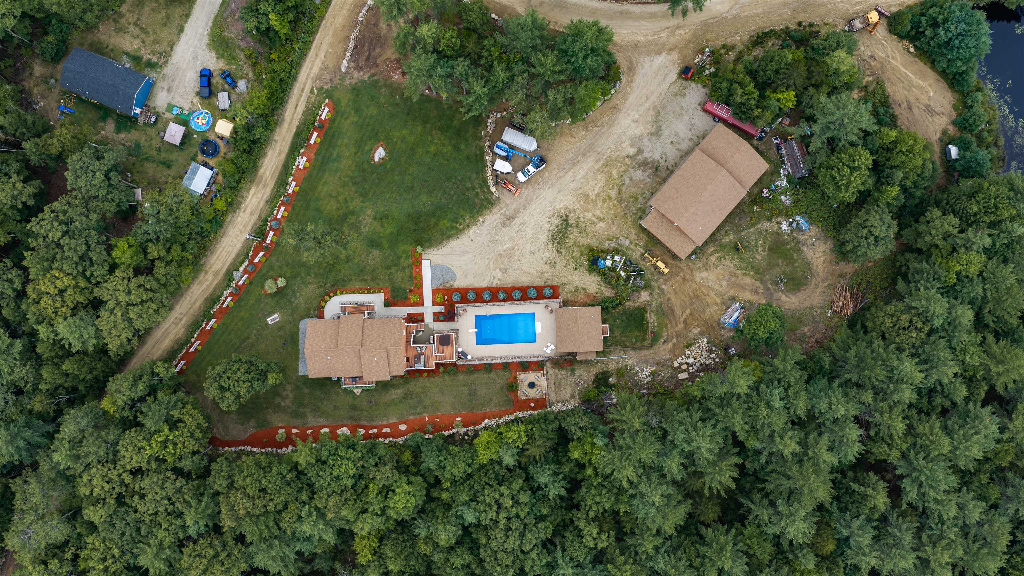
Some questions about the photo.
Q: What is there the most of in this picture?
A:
trees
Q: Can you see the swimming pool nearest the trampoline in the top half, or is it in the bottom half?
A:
top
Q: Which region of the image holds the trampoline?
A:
top left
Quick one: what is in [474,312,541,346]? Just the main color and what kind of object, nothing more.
blue swimming pool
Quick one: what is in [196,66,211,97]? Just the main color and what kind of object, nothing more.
blue vehicle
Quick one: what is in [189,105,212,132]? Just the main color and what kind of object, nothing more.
blue swimming pool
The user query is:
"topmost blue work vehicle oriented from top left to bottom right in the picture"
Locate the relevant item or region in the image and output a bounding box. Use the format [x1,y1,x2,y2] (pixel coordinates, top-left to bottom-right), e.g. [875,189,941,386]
[217,67,239,90]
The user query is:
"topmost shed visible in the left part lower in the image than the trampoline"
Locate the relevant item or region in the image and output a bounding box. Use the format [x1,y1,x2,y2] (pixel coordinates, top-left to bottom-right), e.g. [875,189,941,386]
[183,162,217,195]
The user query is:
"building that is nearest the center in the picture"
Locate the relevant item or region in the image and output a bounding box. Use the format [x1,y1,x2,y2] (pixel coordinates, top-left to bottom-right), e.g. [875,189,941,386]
[555,306,609,361]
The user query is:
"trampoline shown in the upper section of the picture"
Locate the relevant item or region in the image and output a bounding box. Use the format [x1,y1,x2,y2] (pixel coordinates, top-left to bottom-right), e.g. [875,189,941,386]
[195,137,219,157]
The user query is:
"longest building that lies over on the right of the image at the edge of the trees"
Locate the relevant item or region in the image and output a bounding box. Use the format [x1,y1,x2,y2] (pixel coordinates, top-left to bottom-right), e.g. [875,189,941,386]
[639,123,769,260]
